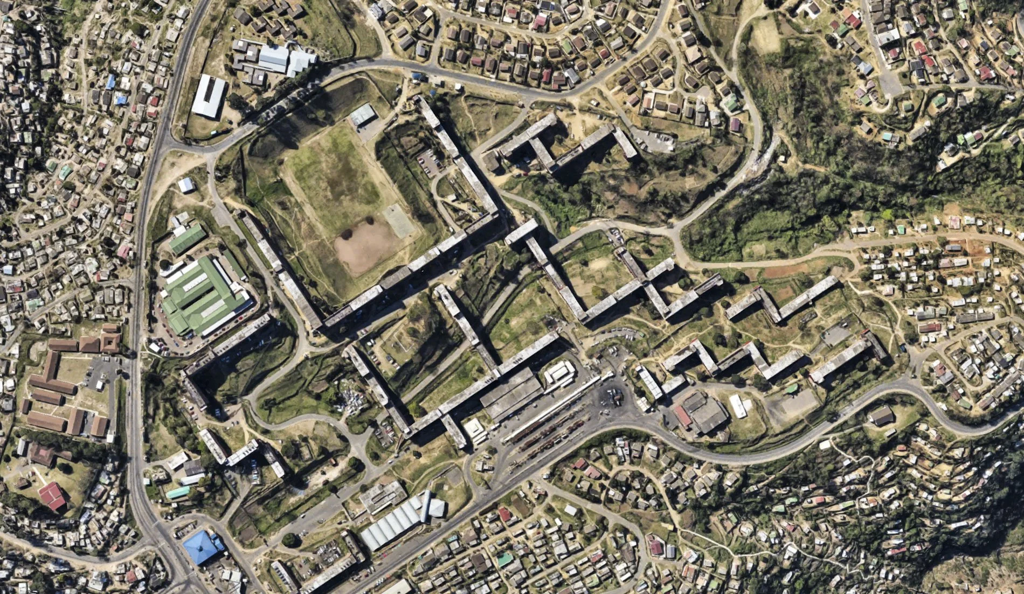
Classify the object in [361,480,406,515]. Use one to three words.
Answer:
building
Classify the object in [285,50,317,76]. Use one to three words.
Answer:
building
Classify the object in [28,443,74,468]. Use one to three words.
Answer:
house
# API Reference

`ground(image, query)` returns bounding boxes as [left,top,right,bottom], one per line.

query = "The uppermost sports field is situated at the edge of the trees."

[753,20,780,55]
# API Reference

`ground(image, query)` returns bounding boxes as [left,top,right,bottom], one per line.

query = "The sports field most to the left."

[281,121,405,276]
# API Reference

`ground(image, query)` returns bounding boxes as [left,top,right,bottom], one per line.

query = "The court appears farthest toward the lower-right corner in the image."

[781,389,819,419]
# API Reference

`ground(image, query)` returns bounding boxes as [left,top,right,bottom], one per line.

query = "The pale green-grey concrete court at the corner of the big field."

[383,204,415,239]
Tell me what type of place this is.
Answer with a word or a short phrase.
residential area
